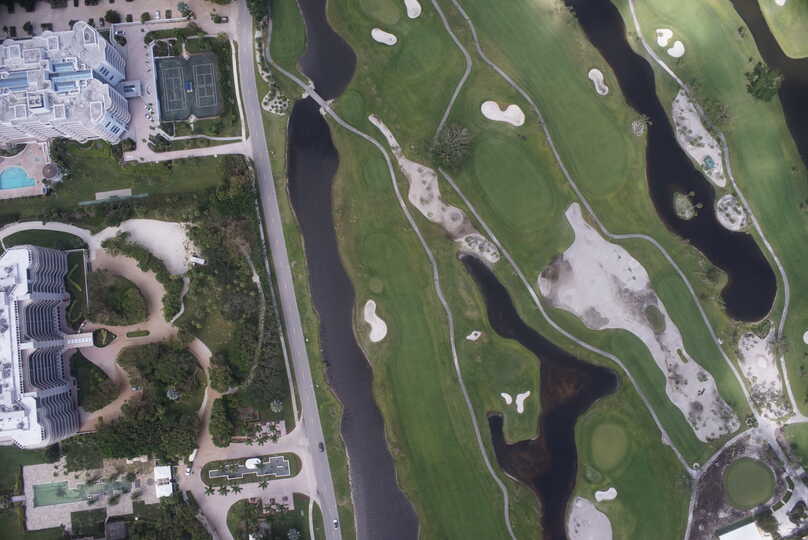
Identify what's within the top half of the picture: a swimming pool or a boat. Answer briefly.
swimming pool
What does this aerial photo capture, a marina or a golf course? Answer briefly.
golf course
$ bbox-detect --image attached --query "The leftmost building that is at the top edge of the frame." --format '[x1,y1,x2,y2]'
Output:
[0,21,128,142]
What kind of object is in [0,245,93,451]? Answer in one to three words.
building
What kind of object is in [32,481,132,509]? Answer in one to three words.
swimming pool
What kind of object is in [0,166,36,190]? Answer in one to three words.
swimming pool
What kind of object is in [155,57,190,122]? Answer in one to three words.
tennis court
